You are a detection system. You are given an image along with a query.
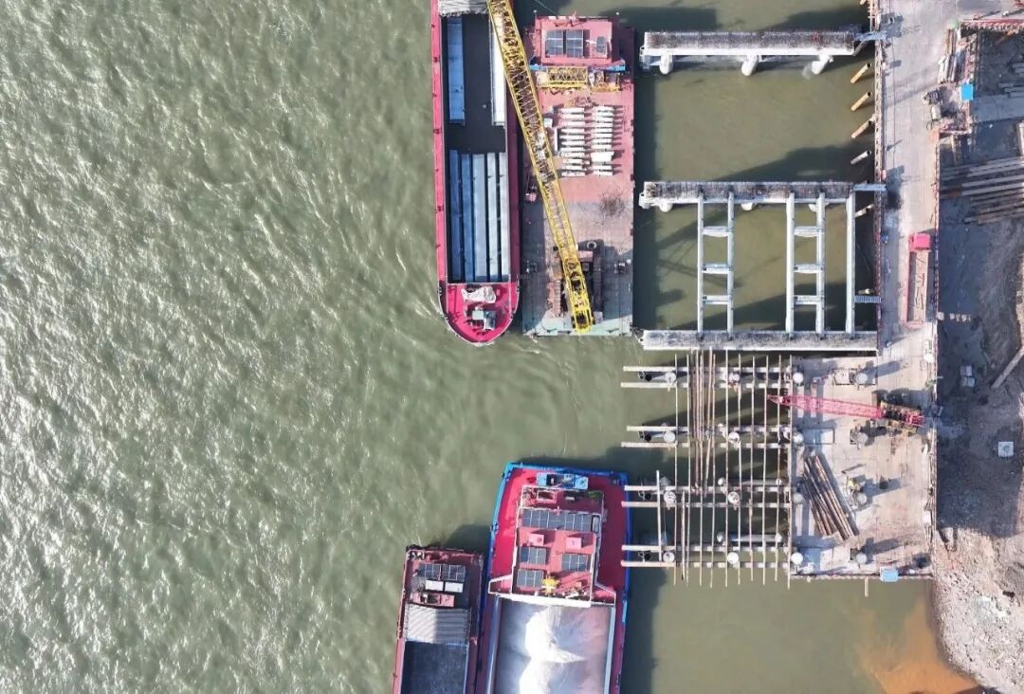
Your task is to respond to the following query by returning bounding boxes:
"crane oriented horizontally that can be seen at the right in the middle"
[746,388,928,430]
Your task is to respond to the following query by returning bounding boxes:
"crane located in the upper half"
[487,0,604,331]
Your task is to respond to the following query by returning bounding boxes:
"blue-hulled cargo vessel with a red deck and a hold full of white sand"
[481,462,629,694]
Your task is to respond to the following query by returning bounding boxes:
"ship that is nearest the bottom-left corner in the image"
[391,543,485,694]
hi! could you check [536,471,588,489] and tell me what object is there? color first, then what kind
blue boat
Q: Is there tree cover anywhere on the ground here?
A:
No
